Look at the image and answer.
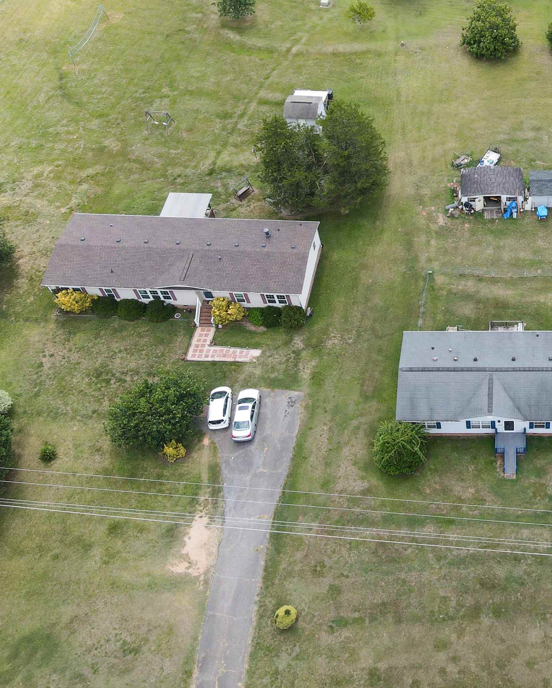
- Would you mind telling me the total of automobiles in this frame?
2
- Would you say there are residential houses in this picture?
Yes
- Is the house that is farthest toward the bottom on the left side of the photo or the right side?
right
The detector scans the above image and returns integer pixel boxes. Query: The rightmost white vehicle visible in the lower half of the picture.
[231,390,261,443]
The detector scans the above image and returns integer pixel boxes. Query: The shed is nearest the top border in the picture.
[282,82,333,132]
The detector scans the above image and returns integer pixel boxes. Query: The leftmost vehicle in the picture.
[202,385,233,435]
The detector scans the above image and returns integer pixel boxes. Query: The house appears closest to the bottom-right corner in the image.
[395,320,552,481]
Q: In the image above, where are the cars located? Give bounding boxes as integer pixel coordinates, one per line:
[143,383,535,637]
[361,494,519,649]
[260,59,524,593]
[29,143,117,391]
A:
[202,385,233,435]
[231,390,261,443]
